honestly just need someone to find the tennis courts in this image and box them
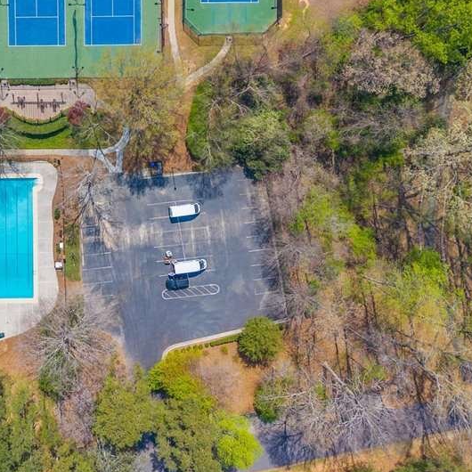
[184,0,278,34]
[0,0,75,79]
[75,0,163,79]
